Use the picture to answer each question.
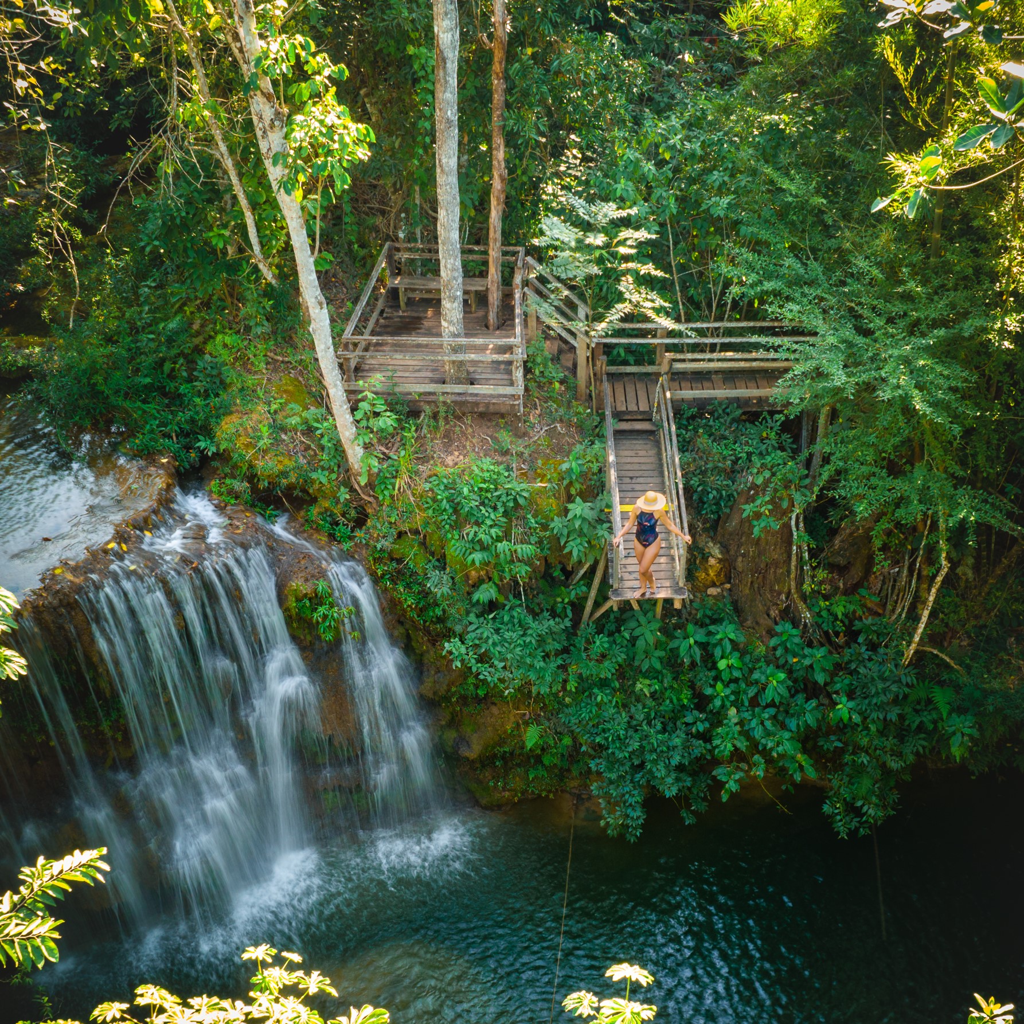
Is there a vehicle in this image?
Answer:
No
